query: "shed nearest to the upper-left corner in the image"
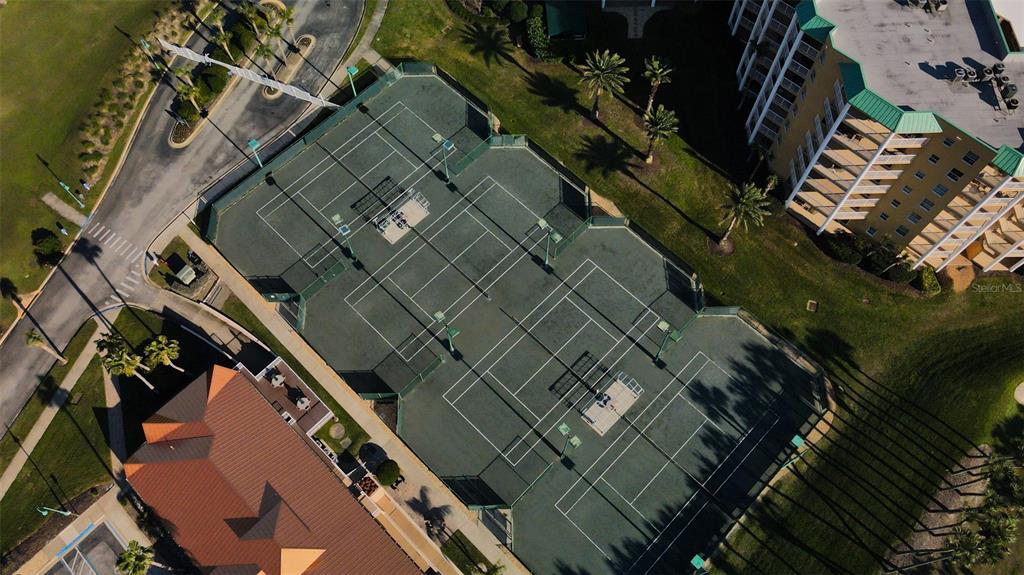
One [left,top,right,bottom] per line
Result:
[176,266,201,289]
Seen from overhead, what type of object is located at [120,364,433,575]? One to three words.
building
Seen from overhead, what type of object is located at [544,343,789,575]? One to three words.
tennis court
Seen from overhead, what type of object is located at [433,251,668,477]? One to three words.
tennis court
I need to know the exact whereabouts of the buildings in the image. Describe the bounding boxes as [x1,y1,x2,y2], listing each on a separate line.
[176,266,201,289]
[725,0,1024,274]
[120,364,433,575]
